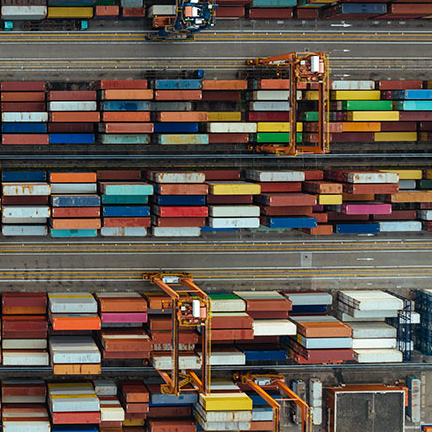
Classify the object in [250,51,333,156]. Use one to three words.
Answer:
container crane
